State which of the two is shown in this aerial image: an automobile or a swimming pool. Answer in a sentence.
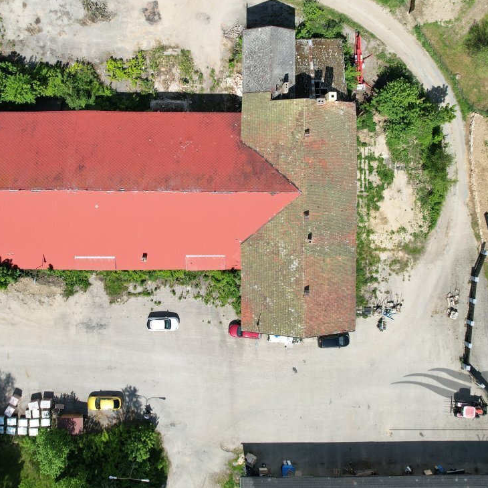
This aerial view contains an automobile.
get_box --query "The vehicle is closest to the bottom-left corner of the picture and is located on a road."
[88,394,121,411]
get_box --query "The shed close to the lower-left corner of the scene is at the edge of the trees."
[57,413,85,434]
